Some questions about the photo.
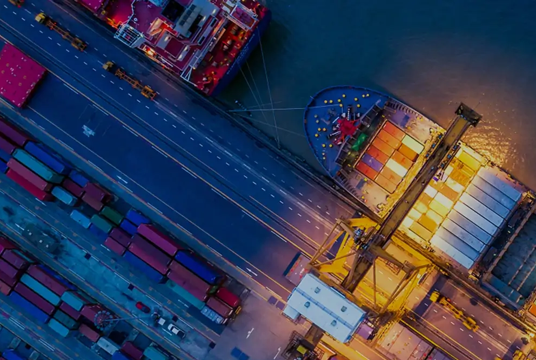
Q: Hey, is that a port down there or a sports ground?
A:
port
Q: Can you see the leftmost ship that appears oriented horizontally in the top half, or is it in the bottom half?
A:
top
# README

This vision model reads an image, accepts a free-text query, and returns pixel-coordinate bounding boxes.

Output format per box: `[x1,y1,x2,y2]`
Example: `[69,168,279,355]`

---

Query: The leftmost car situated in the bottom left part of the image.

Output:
[136,300,153,315]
